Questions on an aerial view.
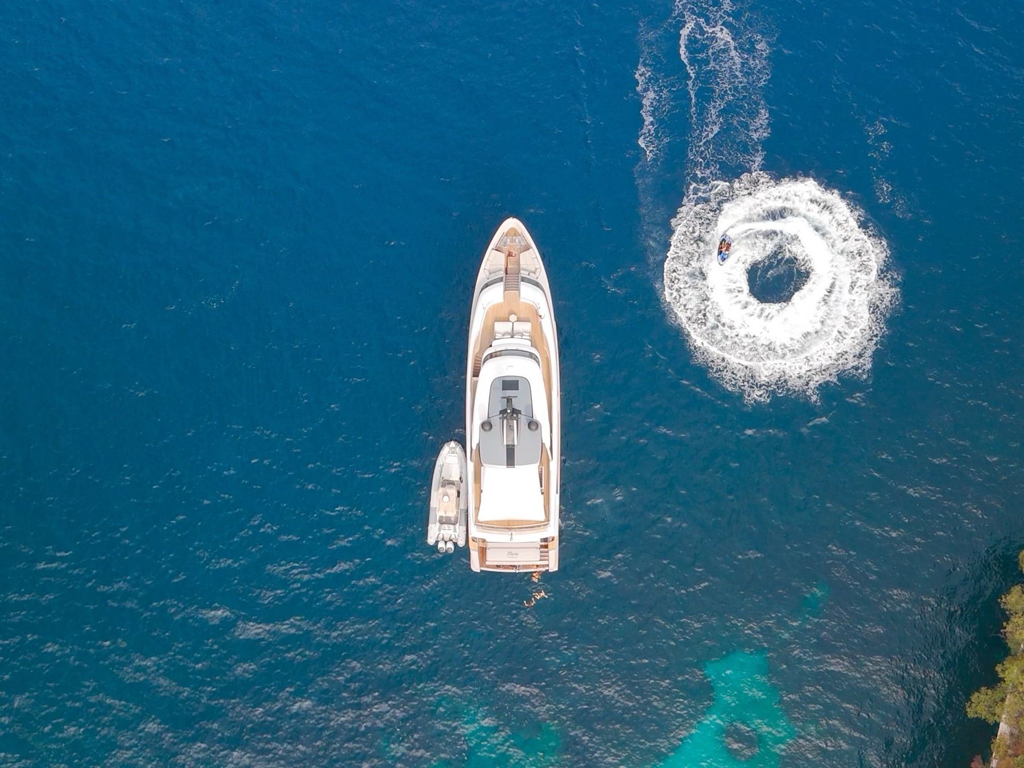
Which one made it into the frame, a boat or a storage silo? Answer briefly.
boat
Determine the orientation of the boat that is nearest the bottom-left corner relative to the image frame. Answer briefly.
vertically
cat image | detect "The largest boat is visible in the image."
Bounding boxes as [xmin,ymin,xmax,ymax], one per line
[466,215,561,574]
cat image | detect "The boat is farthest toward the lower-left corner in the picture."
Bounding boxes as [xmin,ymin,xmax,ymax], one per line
[428,441,468,552]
